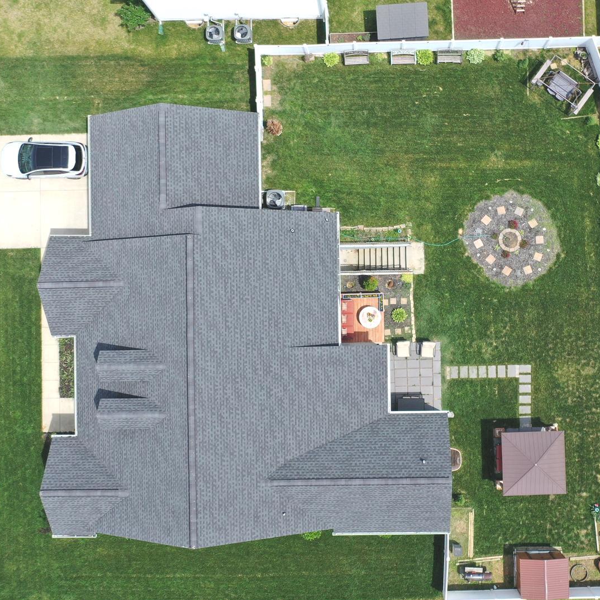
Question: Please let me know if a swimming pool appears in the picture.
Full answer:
No, the scene contains no swimming pool.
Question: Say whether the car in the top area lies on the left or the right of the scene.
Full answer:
The car in the top area appears in the left half of the scene.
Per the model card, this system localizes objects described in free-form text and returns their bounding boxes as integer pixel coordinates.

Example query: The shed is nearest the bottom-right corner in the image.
[512,542,569,600]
